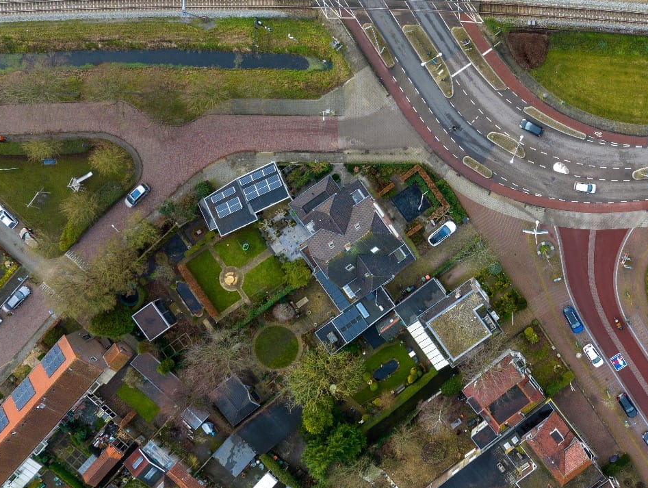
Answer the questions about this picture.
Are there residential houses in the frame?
Yes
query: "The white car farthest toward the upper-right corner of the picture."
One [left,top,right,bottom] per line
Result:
[572,181,598,195]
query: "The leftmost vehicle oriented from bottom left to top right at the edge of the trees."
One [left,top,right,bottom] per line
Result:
[2,286,31,311]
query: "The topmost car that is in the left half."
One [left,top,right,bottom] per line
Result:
[125,181,151,208]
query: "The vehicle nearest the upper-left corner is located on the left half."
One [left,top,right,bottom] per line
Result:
[0,204,19,229]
